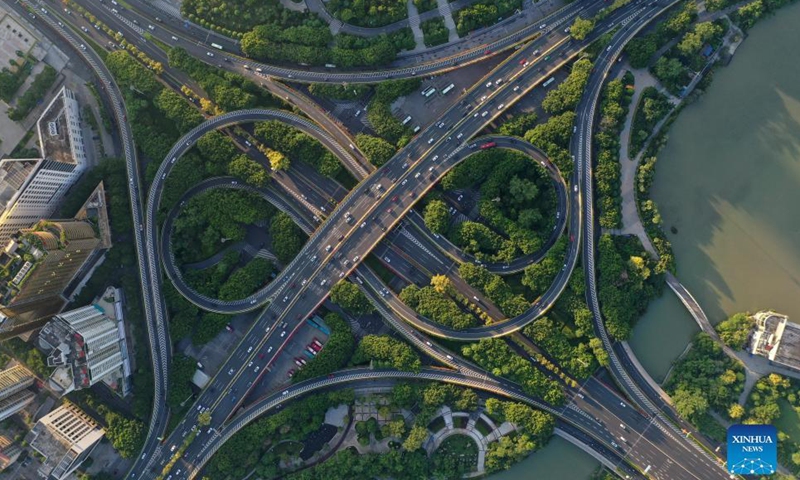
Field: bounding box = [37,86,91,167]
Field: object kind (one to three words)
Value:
building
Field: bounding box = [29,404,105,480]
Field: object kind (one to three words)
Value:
building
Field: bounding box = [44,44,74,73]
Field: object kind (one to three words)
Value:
shed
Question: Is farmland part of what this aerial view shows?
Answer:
No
